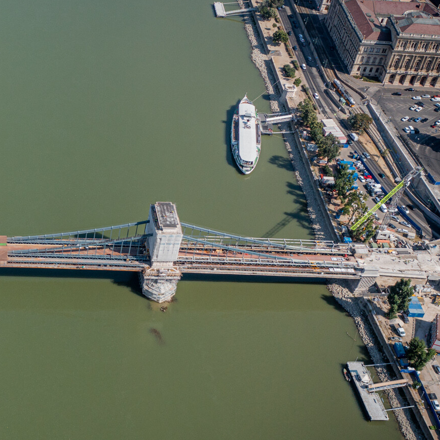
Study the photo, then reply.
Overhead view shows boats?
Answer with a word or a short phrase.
Yes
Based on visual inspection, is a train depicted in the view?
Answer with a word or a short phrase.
Yes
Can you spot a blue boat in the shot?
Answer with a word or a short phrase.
No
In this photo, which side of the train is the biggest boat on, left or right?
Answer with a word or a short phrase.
left of it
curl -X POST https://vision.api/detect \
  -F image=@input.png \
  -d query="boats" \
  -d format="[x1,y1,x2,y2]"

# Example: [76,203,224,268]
[343,369,352,381]
[231,94,262,177]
